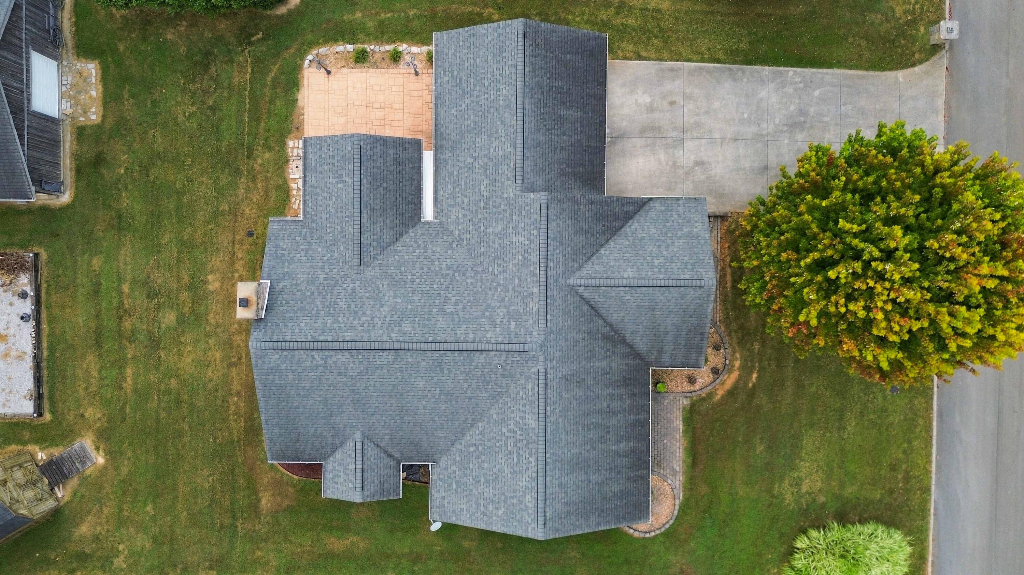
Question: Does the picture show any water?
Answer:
No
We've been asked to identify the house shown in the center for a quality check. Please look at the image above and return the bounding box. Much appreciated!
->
[237,18,716,539]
